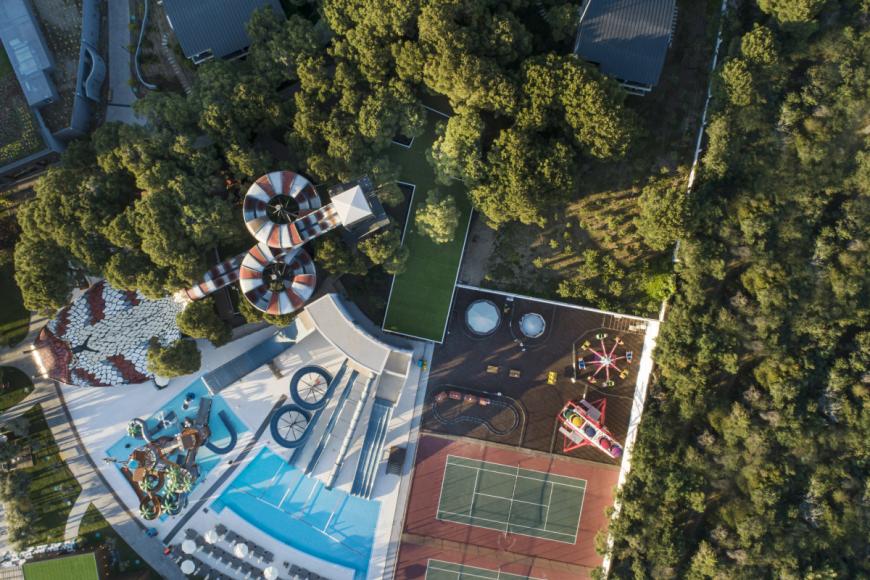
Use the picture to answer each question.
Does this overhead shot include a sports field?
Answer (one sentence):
Yes, there's a sports field here.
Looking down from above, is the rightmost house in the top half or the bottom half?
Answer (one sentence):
You can find the rightmost house in the top half.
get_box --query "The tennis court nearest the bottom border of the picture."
[396,538,595,580]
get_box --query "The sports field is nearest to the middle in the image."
[381,107,477,342]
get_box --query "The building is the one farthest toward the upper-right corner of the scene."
[574,0,679,96]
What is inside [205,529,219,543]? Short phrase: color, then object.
white umbrella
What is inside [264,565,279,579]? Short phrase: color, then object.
white umbrella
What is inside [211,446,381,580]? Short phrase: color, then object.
blue swimming pool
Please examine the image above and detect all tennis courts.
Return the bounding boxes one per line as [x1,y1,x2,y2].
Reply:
[396,538,595,580]
[403,435,616,564]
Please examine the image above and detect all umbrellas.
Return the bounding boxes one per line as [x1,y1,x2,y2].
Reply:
[205,529,219,543]
[264,565,279,579]
[182,559,196,572]
[234,542,249,556]
[183,538,197,553]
